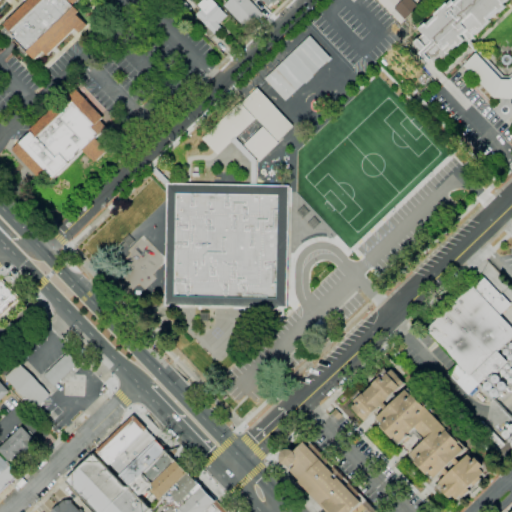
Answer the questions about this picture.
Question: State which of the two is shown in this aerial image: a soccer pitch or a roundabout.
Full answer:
Visible in the photo is a soccer pitch.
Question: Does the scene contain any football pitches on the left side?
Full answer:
No, no football pitch is visible on the left side.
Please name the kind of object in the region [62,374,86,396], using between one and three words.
building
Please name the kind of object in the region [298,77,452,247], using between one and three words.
soccer field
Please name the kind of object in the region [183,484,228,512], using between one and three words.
building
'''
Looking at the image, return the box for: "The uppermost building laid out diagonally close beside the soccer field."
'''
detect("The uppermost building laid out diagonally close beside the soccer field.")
[418,0,510,62]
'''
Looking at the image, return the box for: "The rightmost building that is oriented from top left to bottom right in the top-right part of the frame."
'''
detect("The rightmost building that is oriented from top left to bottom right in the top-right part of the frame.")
[463,51,512,100]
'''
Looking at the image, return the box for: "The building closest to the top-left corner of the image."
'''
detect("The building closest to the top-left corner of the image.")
[3,0,86,57]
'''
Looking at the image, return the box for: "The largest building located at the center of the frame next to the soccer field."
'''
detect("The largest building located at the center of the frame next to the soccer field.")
[166,184,292,306]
